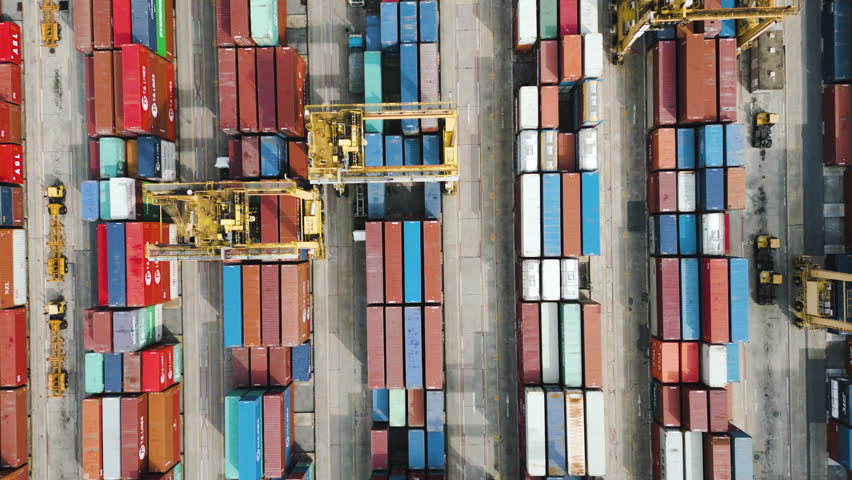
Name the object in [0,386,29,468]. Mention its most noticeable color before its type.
red shipping container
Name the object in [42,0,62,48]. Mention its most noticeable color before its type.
orange vehicle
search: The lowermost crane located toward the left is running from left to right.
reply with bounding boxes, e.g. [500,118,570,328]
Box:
[141,180,323,265]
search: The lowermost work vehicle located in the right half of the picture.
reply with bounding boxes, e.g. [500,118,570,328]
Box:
[755,270,783,306]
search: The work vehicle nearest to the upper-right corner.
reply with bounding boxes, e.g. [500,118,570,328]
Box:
[751,111,779,149]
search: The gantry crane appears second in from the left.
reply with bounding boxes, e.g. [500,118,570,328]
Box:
[305,101,459,195]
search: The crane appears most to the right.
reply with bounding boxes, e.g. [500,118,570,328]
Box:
[795,259,852,332]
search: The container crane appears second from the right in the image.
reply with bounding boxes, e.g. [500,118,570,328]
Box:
[607,0,806,65]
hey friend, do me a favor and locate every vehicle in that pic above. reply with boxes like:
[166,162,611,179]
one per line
[350,183,367,241]
[42,0,62,48]
[755,270,783,306]
[47,185,70,282]
[751,111,779,149]
[754,234,781,270]
[47,300,71,398]
[346,0,365,11]
[214,156,235,187]
[345,33,365,94]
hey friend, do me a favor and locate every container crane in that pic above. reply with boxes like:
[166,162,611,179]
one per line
[607,0,806,65]
[141,180,323,265]
[795,259,852,332]
[305,101,459,195]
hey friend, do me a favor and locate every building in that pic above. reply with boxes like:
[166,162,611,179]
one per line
[750,28,785,92]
